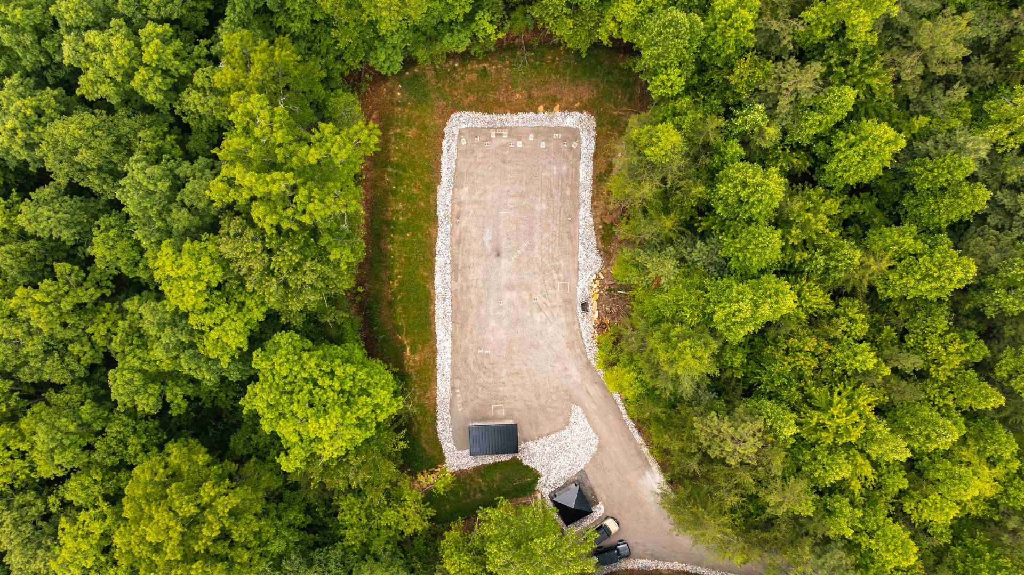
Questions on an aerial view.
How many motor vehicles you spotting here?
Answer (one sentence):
The photo contains 2 motor vehicles.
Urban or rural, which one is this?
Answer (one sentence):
The area shown here is rural.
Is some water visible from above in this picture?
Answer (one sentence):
No, there's no water in this view.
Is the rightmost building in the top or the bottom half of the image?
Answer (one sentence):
Seen from above, the rightmost building lies in the bottom half of the view.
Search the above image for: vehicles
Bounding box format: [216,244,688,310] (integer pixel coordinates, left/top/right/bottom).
[580,517,618,550]
[595,540,632,568]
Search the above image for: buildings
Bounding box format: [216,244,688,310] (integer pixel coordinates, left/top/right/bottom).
[552,482,593,525]
[468,419,519,457]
